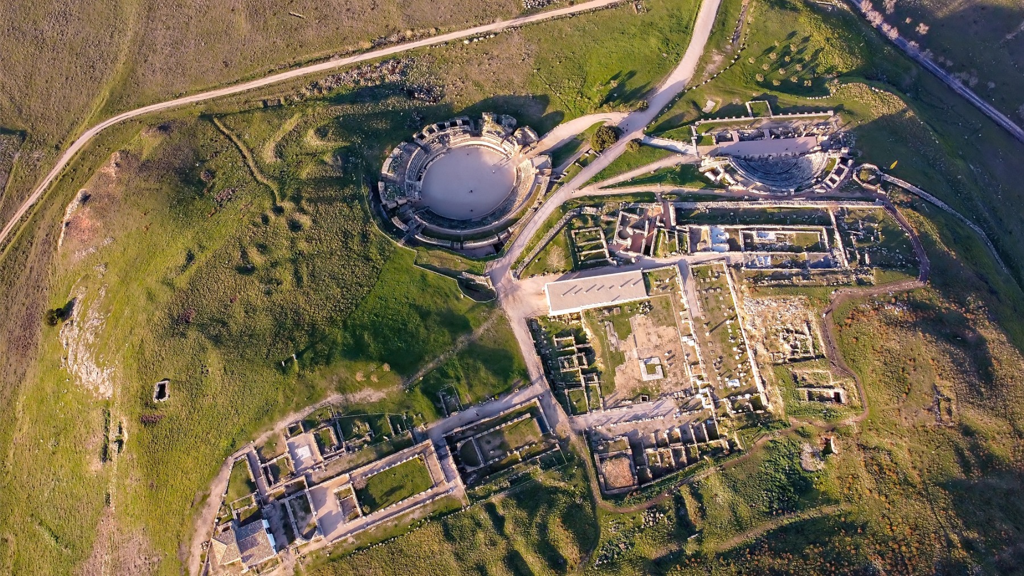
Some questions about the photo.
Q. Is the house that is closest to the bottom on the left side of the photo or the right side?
left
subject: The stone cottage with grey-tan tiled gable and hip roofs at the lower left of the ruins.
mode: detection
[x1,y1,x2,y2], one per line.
[212,519,282,567]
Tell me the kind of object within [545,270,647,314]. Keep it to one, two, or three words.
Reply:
building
